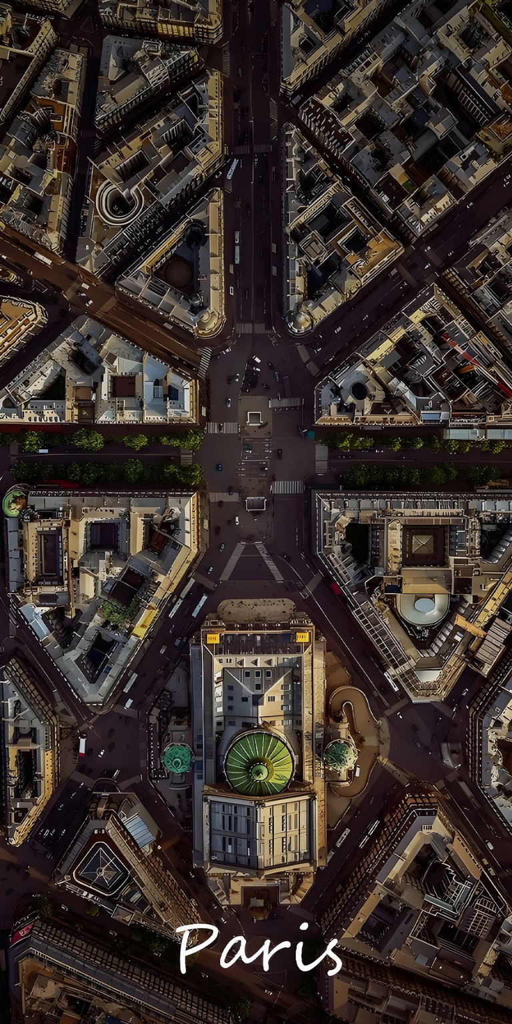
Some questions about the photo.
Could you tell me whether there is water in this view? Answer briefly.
No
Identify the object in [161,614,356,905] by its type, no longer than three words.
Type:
building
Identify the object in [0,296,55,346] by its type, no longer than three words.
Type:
building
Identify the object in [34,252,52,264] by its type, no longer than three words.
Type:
vehicle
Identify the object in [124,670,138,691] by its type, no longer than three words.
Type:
vehicle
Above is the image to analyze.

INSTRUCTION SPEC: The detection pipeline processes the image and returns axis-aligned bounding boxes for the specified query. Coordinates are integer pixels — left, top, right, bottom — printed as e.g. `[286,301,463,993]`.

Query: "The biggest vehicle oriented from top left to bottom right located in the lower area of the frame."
[381,674,396,692]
